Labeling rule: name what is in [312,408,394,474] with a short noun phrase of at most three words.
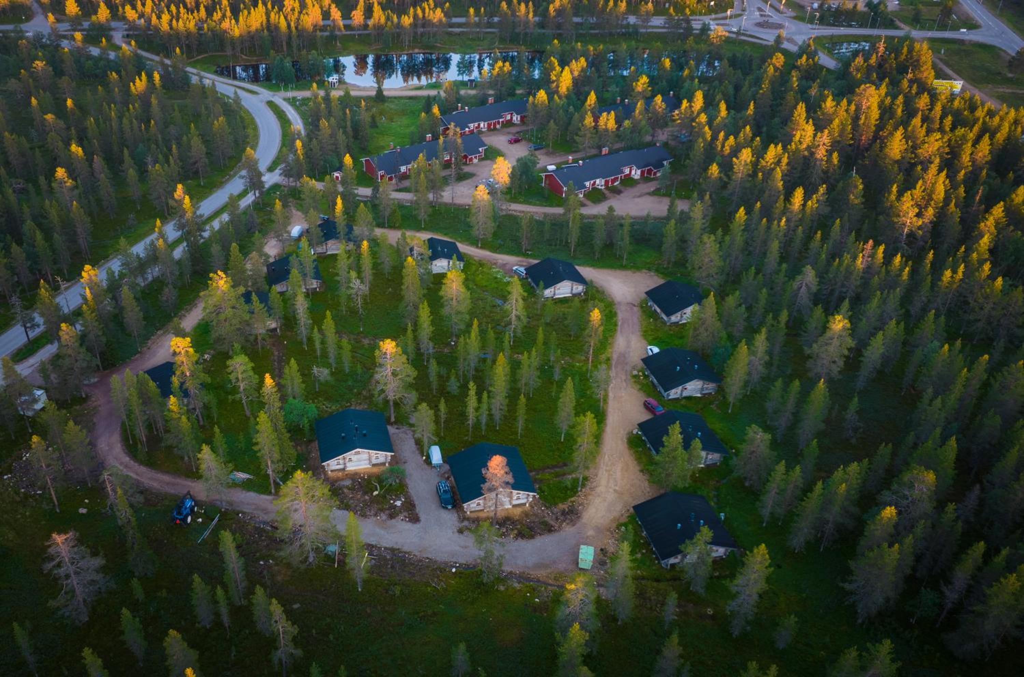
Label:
building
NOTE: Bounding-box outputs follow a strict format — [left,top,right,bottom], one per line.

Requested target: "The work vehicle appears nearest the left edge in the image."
[168,489,202,524]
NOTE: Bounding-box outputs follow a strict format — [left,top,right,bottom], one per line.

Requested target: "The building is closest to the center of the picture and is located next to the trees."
[525,259,588,299]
